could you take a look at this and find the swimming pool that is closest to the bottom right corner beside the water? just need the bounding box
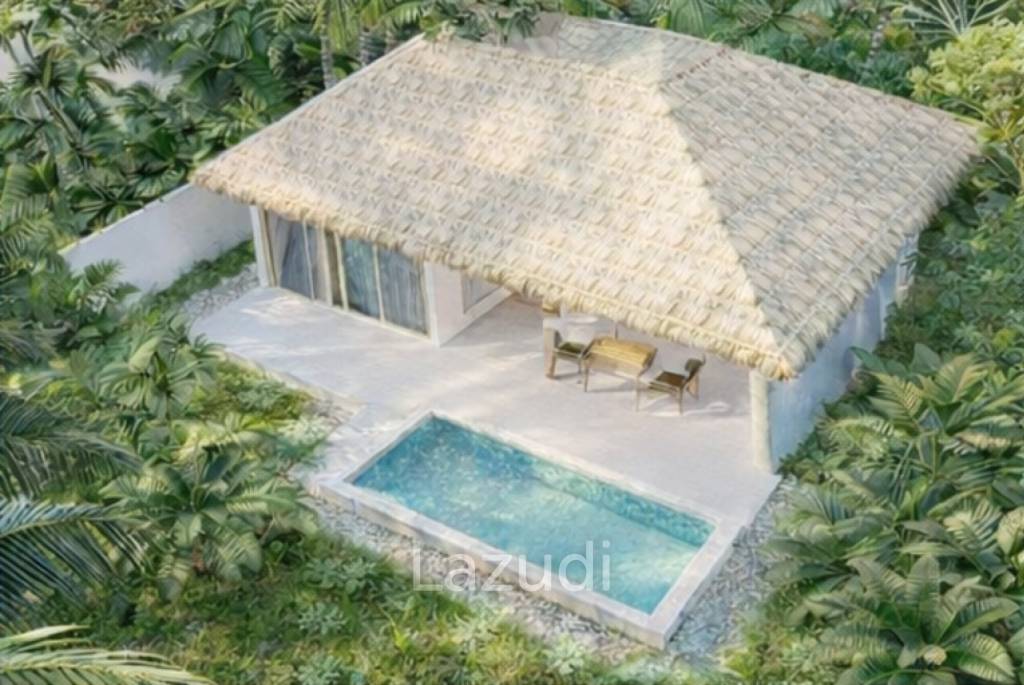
[311,396,744,651]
